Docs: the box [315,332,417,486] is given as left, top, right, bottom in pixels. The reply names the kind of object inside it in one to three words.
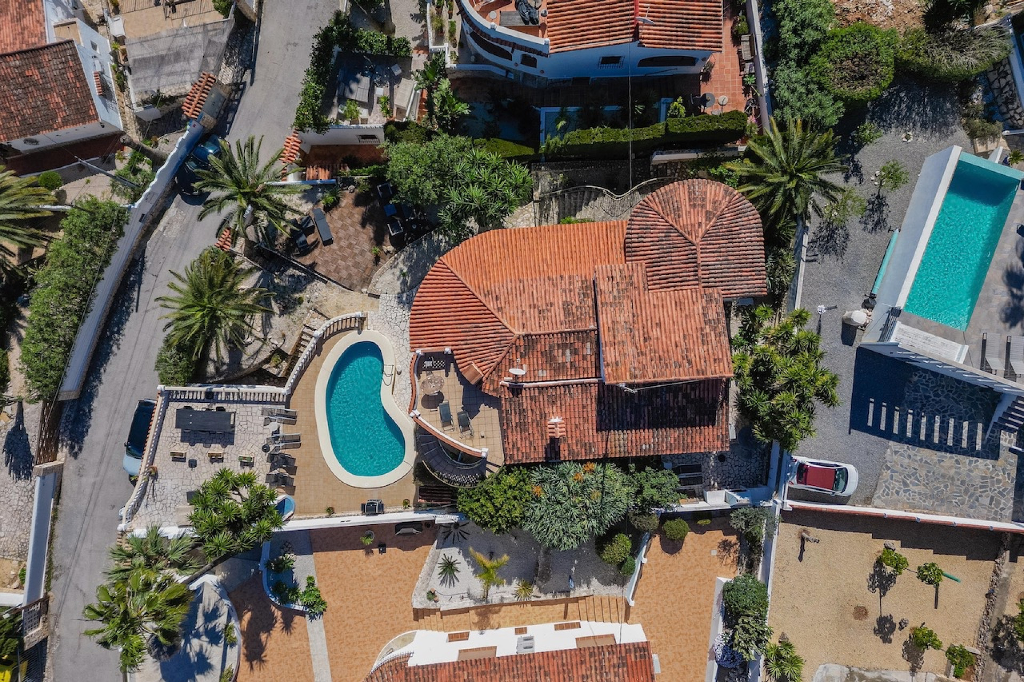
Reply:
swimming pool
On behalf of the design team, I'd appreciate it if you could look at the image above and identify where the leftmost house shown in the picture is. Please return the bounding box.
[0,0,124,159]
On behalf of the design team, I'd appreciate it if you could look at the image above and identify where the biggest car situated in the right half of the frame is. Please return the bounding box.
[790,457,864,501]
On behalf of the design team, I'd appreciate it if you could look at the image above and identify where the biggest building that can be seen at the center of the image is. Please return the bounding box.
[409,178,767,469]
